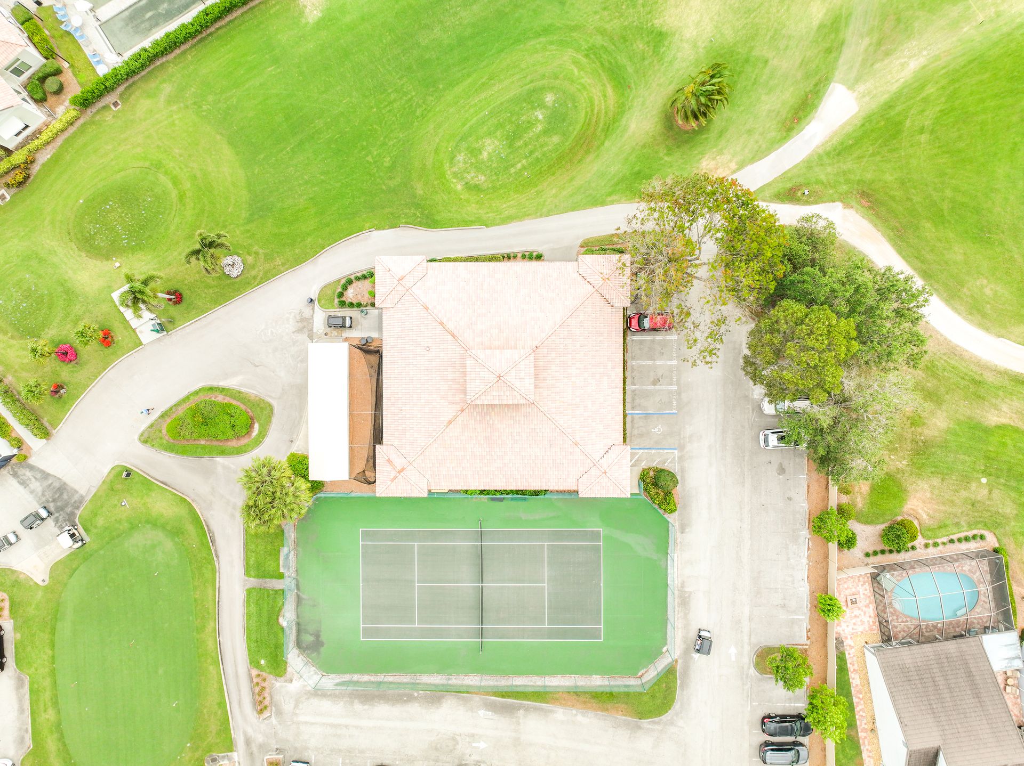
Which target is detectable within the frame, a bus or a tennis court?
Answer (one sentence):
It is a tennis court that can be seen here.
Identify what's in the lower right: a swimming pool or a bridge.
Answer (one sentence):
It is a swimming pool that can be seen in the lower right.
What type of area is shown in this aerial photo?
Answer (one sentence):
It's a golf course.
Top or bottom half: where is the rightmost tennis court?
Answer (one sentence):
You can find the rightmost tennis court in the bottom half.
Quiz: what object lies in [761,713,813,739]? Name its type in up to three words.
car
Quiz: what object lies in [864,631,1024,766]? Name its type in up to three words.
building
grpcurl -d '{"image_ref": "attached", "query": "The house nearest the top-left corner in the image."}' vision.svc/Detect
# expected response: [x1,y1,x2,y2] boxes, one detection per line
[0,12,46,88]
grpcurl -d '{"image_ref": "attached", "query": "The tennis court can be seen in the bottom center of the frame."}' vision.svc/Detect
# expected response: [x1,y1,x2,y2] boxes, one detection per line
[295,489,667,677]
